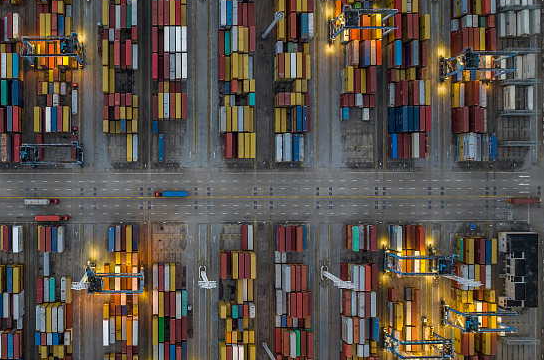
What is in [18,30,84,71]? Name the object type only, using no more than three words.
container crane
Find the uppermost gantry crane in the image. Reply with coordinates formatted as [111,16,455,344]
[330,2,399,48]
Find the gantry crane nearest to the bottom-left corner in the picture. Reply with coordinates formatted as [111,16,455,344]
[84,258,146,296]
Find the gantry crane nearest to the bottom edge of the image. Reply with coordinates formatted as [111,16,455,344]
[384,323,459,360]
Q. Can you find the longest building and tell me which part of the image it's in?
bottom right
